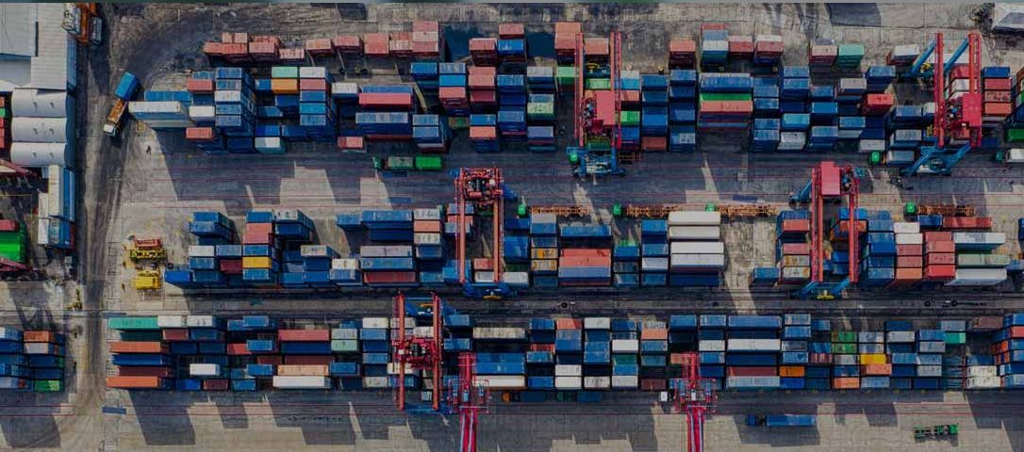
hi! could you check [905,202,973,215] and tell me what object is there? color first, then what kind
green vehicle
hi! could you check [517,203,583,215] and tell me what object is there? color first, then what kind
green vehicle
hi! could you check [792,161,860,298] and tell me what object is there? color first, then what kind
red container crane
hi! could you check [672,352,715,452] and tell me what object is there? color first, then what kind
red container crane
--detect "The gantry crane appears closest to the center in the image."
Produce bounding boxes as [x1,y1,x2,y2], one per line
[455,168,516,299]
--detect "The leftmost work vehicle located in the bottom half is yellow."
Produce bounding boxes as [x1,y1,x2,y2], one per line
[138,271,163,299]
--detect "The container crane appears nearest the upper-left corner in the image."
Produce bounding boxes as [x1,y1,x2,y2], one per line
[0,149,44,276]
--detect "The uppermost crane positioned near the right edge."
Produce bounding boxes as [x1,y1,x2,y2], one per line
[903,36,980,175]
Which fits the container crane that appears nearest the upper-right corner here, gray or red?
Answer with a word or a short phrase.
red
